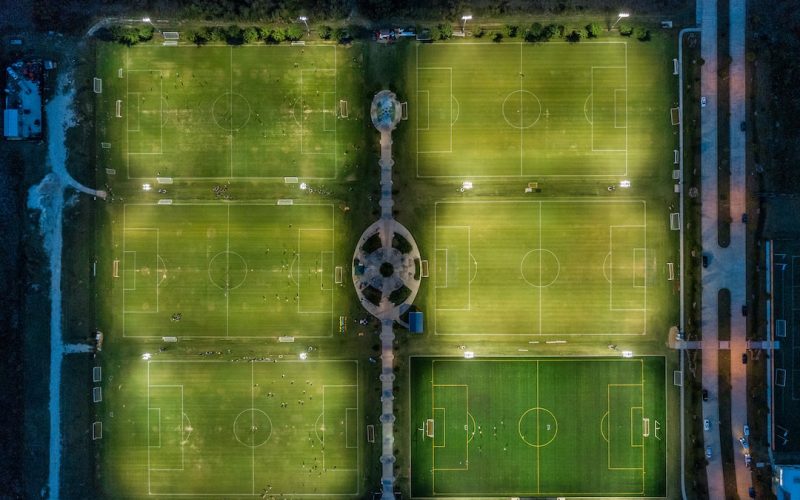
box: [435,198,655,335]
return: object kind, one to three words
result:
soccer field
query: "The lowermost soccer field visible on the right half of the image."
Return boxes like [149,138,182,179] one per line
[410,356,667,498]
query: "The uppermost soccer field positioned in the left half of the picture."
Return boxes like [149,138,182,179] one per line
[127,45,336,179]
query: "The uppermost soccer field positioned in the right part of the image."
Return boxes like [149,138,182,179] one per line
[416,42,627,180]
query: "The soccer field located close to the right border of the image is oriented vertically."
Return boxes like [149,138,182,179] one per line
[774,238,800,459]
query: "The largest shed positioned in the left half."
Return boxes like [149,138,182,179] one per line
[5,109,23,138]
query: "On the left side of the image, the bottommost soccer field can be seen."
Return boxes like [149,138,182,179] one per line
[148,361,358,495]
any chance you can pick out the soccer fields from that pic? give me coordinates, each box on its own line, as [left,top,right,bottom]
[416,42,627,180]
[123,204,334,337]
[148,361,358,495]
[410,356,667,498]
[435,198,655,335]
[774,238,800,459]
[127,45,336,179]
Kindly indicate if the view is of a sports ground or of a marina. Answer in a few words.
sports ground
